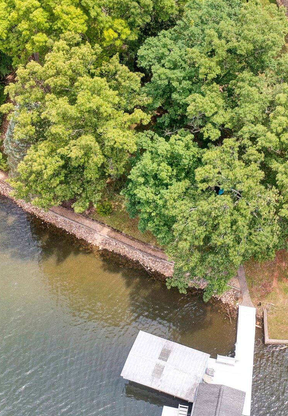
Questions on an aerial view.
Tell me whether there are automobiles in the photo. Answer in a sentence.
No, I find no automobile anywhere in the image.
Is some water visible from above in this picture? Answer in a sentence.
Yes, the picture does contain water.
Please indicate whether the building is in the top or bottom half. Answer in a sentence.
You can find the building in the bottom half.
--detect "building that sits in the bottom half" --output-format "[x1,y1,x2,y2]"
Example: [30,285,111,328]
[120,331,210,409]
